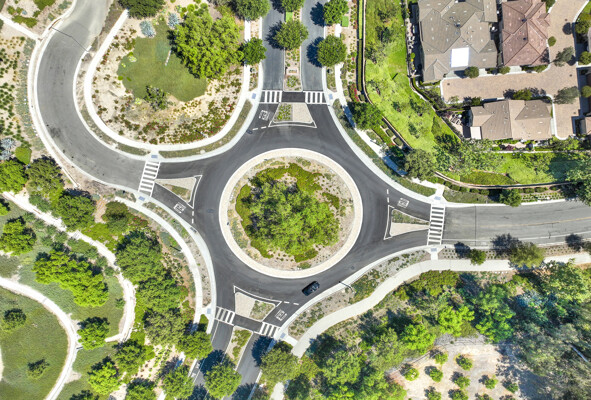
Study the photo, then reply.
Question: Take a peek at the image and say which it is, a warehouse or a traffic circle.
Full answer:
There is a traffic circle in the scene.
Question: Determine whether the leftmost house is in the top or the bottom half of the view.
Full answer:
You can find the leftmost house in the top half.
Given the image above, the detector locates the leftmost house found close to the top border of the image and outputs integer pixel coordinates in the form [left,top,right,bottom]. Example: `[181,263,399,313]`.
[417,0,497,83]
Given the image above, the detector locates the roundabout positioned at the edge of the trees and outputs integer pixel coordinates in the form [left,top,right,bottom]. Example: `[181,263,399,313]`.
[138,91,431,337]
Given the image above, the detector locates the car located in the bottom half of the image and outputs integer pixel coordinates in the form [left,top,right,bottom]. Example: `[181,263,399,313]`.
[301,281,320,297]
